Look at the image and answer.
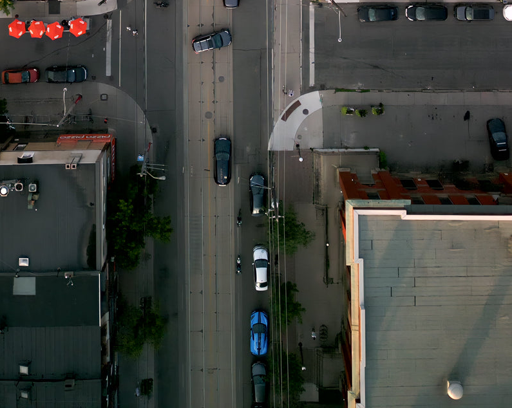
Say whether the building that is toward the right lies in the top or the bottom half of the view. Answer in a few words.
bottom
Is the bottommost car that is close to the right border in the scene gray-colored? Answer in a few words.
No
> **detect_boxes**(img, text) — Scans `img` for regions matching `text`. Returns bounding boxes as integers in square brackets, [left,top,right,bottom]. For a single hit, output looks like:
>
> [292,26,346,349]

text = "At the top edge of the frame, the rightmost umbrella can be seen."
[69,18,88,36]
